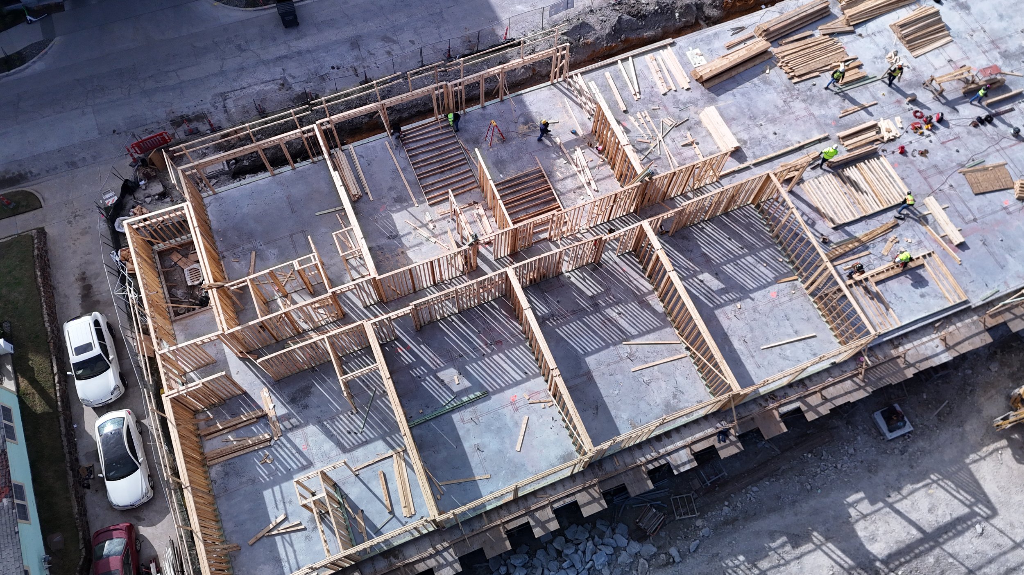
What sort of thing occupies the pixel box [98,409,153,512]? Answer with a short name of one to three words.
car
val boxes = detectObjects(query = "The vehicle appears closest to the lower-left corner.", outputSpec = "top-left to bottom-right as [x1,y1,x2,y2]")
[97,521,149,575]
